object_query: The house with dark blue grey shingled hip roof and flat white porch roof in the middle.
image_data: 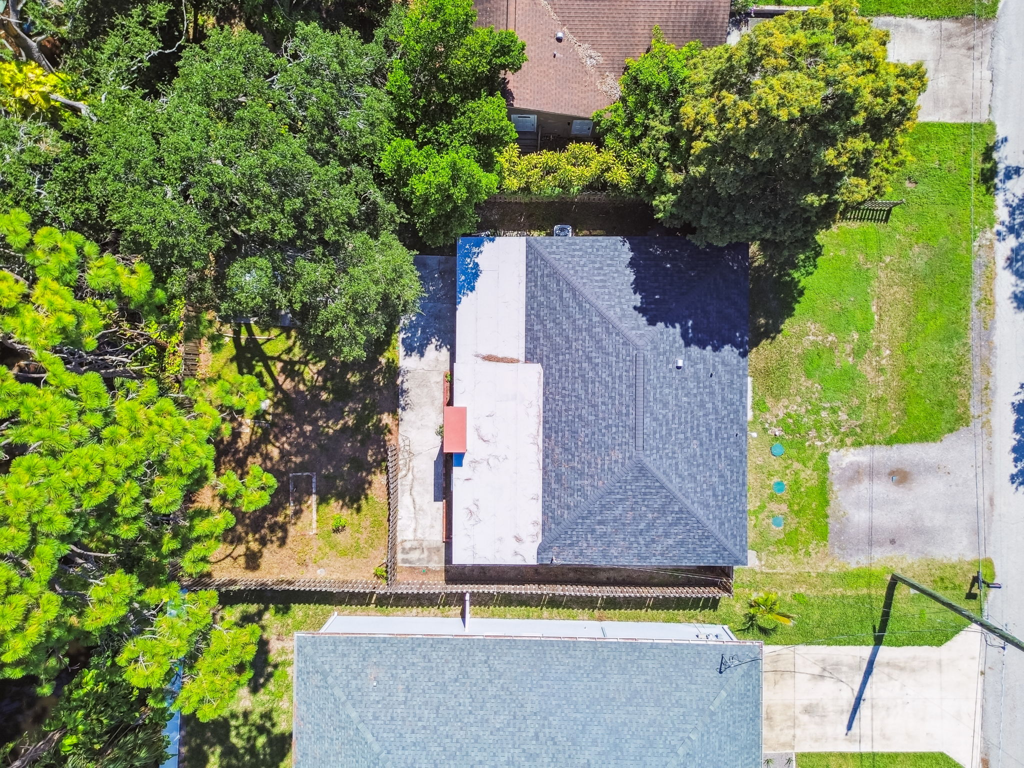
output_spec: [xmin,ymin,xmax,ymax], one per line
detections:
[443,234,756,568]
